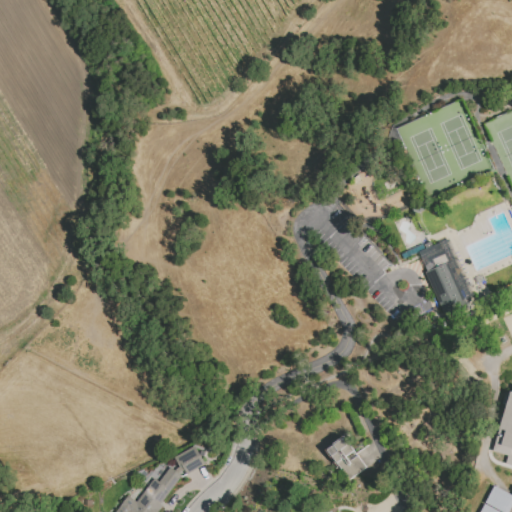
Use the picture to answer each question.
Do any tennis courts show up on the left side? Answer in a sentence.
No, there is no tennis court on the left side.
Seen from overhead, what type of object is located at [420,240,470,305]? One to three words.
building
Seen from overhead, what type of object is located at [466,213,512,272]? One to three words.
swimming pool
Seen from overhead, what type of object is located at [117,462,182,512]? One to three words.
house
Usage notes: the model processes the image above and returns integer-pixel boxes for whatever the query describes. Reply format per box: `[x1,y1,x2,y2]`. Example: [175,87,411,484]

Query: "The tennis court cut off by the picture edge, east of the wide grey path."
[486,112,512,182]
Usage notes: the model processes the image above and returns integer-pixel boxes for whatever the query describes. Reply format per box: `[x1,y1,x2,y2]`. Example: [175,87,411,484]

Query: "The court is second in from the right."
[430,102,488,178]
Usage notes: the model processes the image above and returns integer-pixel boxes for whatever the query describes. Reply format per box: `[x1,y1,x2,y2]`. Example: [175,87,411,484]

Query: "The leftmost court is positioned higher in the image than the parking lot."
[398,114,458,195]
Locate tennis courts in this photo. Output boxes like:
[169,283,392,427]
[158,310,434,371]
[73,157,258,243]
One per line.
[430,102,488,178]
[486,112,512,182]
[398,114,458,195]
